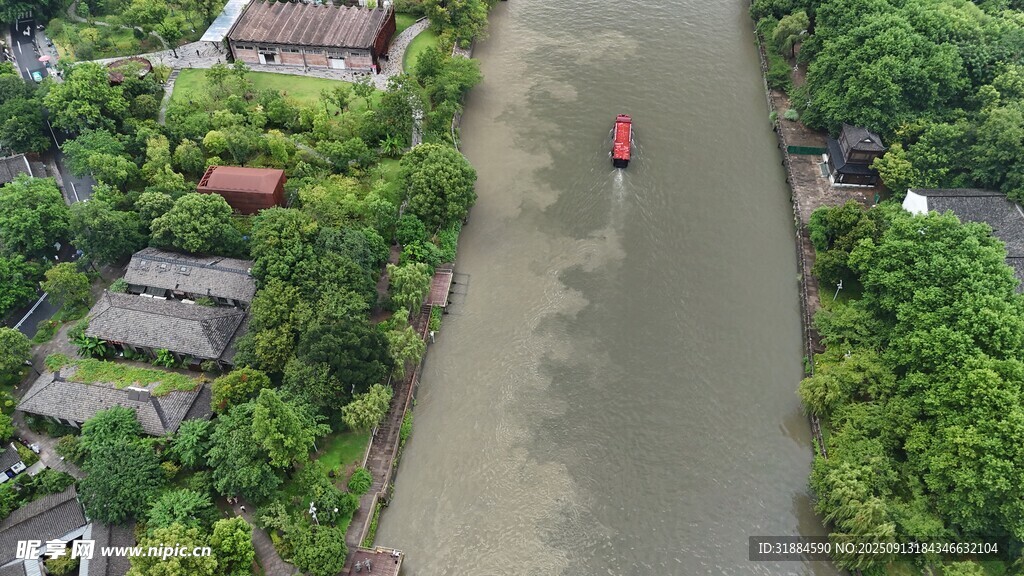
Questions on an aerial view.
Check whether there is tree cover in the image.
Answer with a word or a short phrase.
Yes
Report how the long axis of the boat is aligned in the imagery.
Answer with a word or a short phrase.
up and down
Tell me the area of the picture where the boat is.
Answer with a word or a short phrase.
top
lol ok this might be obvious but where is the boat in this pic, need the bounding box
[609,112,632,171]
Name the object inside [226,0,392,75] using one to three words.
building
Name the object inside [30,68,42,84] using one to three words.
vehicle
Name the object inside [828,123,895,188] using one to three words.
building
